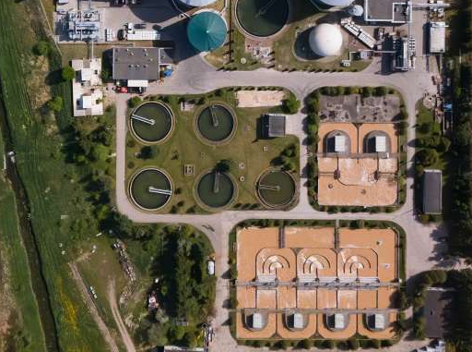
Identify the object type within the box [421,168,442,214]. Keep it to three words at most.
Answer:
shed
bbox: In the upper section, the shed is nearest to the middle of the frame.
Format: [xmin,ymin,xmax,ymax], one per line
[269,113,285,136]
